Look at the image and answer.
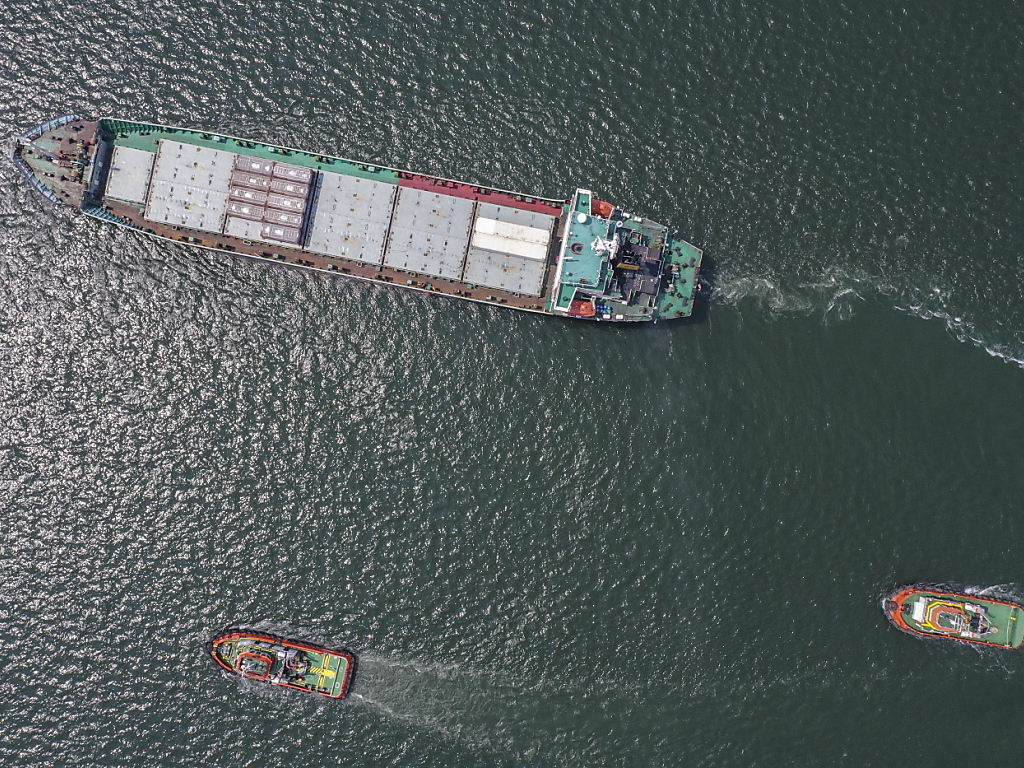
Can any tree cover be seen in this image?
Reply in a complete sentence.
No, tree cover can't be seen anywhere here.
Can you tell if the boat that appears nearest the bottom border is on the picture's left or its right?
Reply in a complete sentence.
The boat that appears nearest the bottom border sits on the left side.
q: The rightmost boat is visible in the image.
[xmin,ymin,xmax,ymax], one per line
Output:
[883,584,1024,647]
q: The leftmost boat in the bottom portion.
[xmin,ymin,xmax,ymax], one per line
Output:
[206,628,358,695]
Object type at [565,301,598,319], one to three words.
boat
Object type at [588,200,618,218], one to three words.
boat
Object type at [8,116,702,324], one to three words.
ship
